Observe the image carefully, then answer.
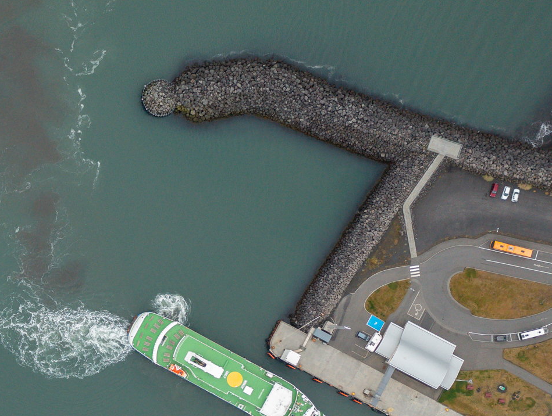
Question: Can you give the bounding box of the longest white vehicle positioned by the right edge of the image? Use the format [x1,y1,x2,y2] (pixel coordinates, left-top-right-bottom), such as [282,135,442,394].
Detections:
[517,327,550,341]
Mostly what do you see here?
water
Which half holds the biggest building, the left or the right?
right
